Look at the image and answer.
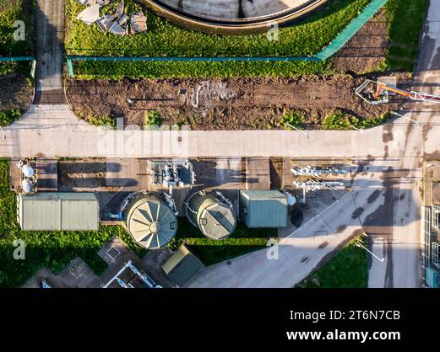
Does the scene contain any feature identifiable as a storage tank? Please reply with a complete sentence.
Yes, there is a storage tank in the image.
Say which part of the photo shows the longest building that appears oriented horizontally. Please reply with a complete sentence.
Look in the left portion of the view to spot the longest building that appears oriented horizontally.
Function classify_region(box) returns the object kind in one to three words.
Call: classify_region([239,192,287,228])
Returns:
building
